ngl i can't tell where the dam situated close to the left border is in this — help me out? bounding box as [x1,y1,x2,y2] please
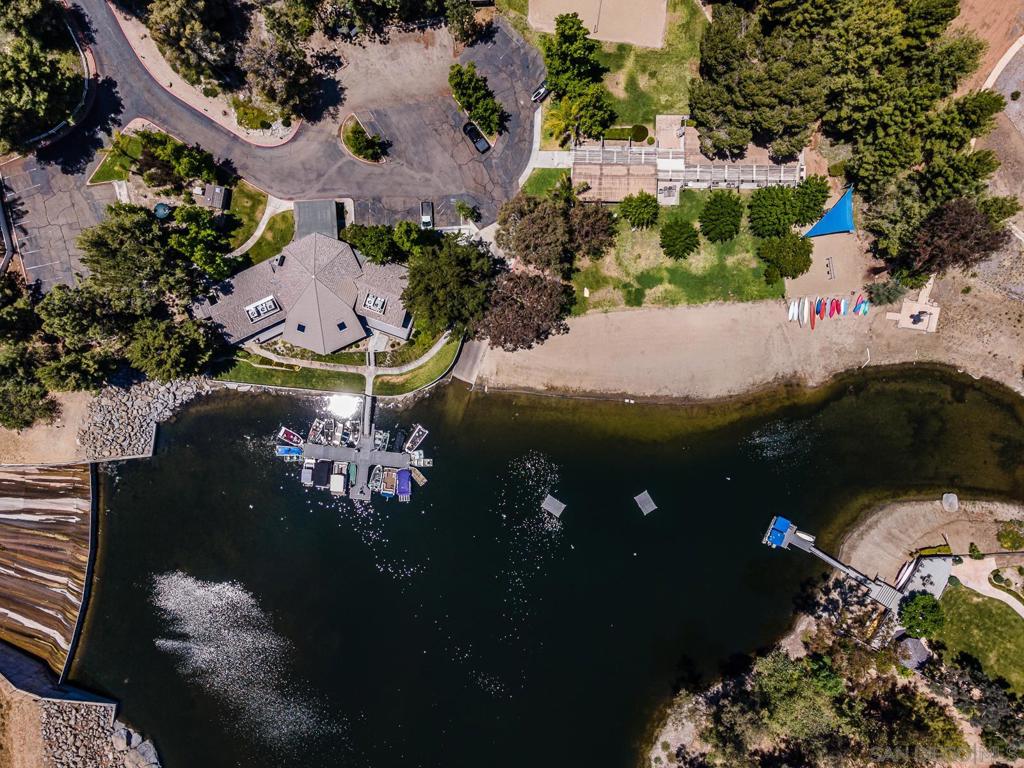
[0,455,98,693]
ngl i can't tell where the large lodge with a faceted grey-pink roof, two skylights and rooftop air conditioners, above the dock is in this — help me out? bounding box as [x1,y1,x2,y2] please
[193,200,415,355]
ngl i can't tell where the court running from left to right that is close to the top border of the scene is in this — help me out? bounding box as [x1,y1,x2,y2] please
[528,0,666,48]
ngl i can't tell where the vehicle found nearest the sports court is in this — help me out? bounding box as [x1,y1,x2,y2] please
[529,80,547,102]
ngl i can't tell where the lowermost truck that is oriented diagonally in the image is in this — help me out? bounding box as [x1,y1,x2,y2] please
[463,119,490,154]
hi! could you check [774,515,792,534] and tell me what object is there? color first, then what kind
blue boat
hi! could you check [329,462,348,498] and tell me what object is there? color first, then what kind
white boat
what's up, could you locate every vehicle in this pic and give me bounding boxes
[463,119,490,154]
[529,80,547,102]
[331,20,359,39]
[419,198,433,231]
